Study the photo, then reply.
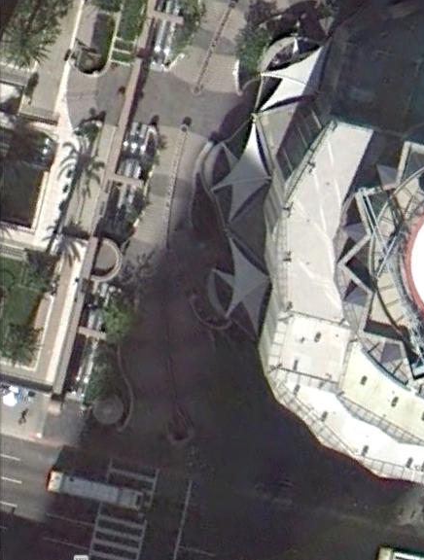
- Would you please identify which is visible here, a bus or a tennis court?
bus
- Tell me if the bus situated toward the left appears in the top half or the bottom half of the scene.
bottom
